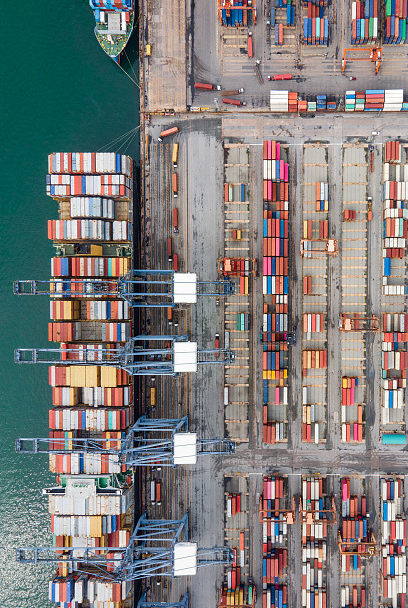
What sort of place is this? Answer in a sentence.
The area seen from above is a port.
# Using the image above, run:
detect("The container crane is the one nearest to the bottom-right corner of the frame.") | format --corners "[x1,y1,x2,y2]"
[336,528,380,556]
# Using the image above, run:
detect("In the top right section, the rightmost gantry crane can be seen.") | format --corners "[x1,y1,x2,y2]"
[339,47,383,77]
